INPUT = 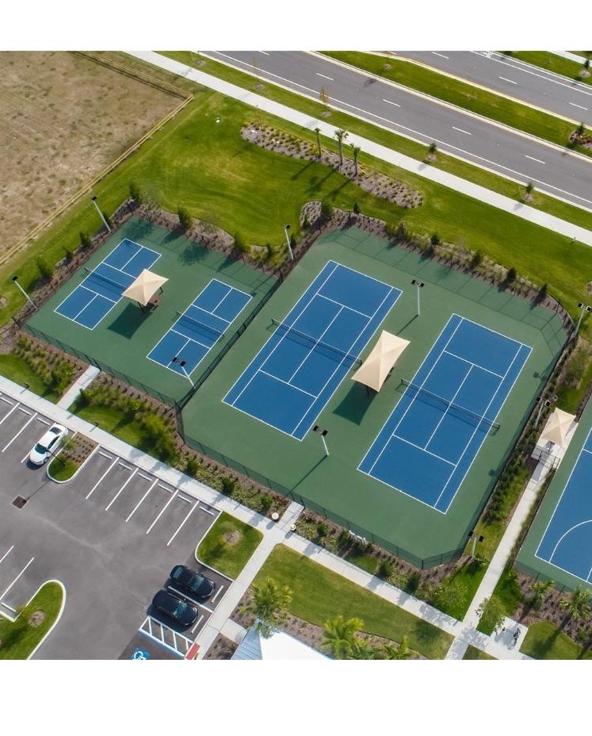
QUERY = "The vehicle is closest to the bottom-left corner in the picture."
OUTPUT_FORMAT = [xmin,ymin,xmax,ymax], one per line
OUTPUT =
[150,590,199,628]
